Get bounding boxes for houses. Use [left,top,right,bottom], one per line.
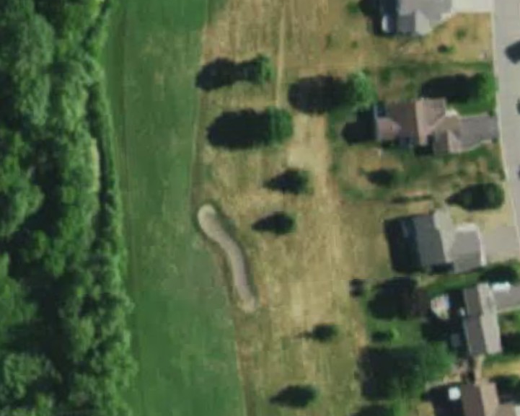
[456,382,519,416]
[378,95,464,152]
[464,283,504,357]
[381,0,457,35]
[400,210,487,275]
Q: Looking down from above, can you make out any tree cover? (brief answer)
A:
Yes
